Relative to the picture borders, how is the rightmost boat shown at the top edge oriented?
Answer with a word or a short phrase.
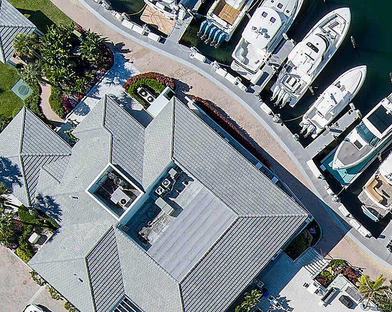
on a diagonal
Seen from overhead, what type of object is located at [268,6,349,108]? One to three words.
boat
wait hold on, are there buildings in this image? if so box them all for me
[0,0,47,66]
[0,93,319,312]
